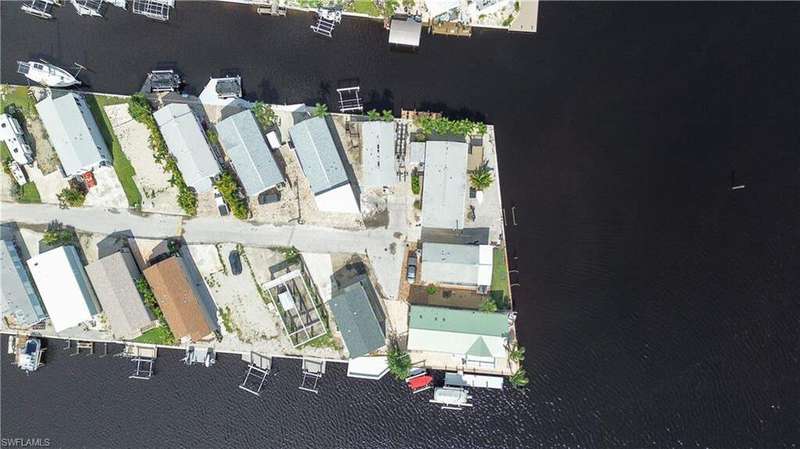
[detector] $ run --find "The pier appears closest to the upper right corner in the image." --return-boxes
[433,20,472,39]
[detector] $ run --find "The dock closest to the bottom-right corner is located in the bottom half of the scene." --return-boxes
[463,374,503,389]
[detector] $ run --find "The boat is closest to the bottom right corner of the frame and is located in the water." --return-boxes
[434,387,471,407]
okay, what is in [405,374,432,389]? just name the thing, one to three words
boat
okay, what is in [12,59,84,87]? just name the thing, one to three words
boat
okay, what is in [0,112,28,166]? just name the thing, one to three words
vehicle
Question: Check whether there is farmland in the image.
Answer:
No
